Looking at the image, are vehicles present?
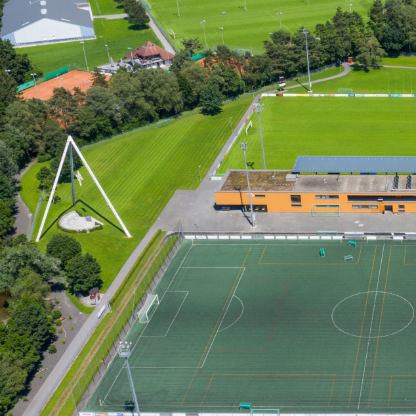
No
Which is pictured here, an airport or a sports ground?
sports ground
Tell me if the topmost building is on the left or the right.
left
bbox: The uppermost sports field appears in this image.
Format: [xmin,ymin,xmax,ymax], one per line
[141,0,416,55]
